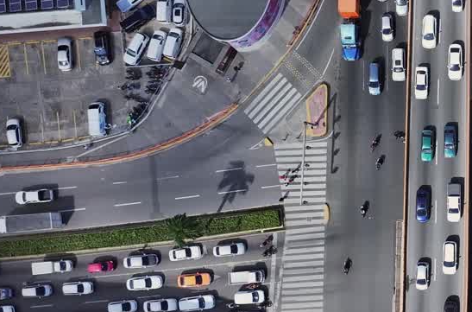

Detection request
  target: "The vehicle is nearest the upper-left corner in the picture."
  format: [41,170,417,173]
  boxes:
[56,38,76,71]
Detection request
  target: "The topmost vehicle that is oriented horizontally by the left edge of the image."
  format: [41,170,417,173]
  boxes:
[16,188,56,205]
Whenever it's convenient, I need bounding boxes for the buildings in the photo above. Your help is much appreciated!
[0,0,121,42]
[189,0,288,53]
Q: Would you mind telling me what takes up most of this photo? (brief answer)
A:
paved ground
